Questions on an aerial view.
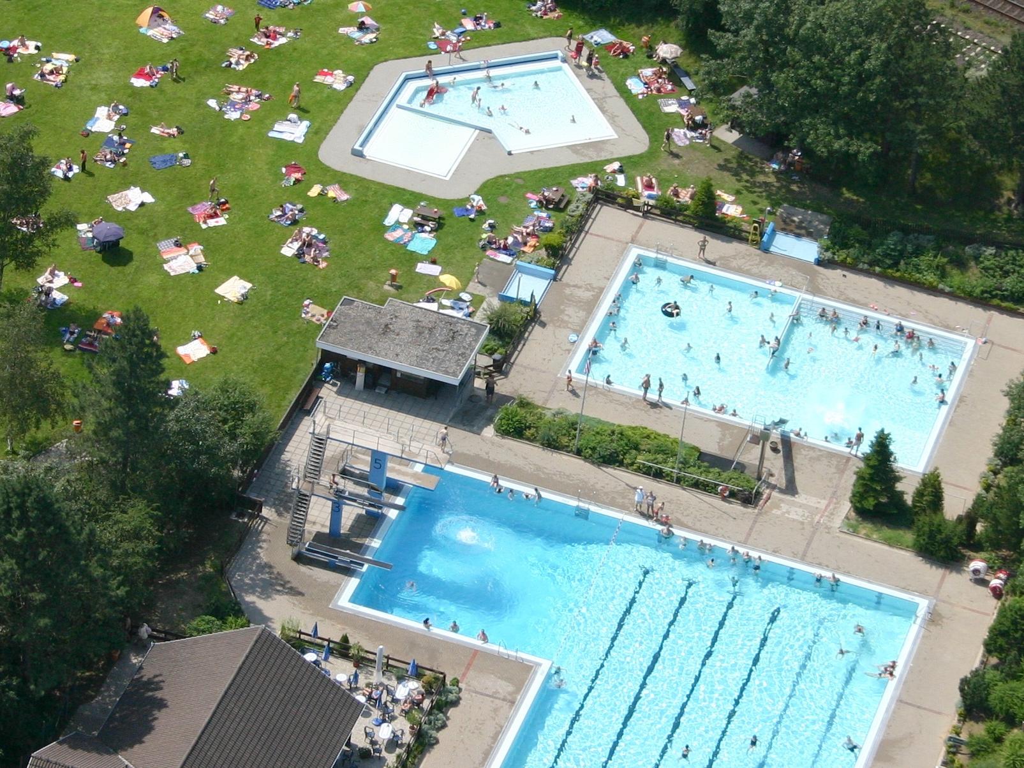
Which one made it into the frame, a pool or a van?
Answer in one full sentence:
There is a pool in the scene.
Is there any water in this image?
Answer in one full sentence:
Yes, there is water in the image.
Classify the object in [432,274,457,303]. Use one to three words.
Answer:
umbrella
